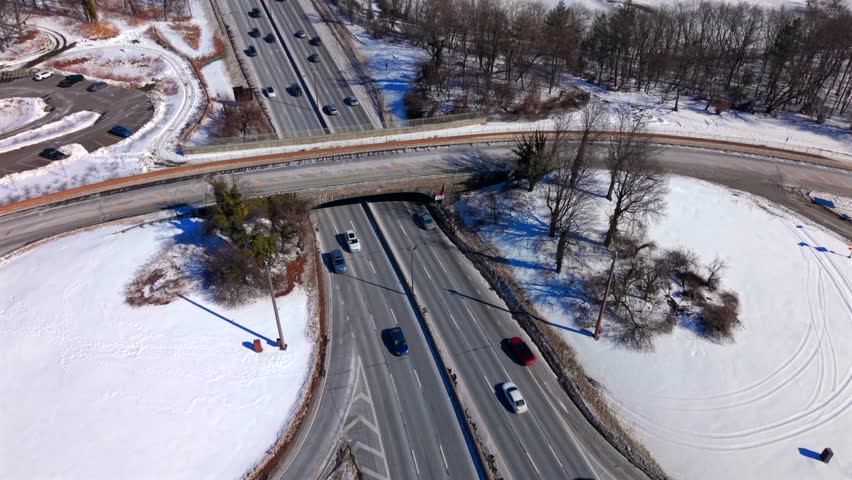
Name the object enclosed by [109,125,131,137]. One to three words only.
vehicle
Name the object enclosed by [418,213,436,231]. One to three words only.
car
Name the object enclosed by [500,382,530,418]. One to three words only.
car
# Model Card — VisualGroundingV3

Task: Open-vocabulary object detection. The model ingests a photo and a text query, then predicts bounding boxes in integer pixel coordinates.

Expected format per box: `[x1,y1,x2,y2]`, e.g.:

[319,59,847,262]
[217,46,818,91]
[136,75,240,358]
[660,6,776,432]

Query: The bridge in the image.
[181,116,491,213]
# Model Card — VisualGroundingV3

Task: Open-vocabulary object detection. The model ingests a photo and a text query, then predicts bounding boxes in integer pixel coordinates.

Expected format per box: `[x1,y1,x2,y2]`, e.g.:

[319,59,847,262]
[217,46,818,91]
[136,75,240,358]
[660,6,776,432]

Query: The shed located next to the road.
[230,83,254,104]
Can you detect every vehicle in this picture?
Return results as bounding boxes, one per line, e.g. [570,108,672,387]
[265,87,276,97]
[330,252,347,274]
[32,71,55,81]
[343,230,360,253]
[57,75,83,87]
[508,338,536,369]
[326,105,339,116]
[418,213,436,231]
[291,82,302,96]
[347,97,359,107]
[109,125,131,137]
[86,82,107,92]
[386,326,409,359]
[311,37,321,46]
[500,382,530,418]
[252,27,260,36]
[267,32,276,42]
[297,32,306,38]
[38,148,66,160]
[311,55,321,62]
